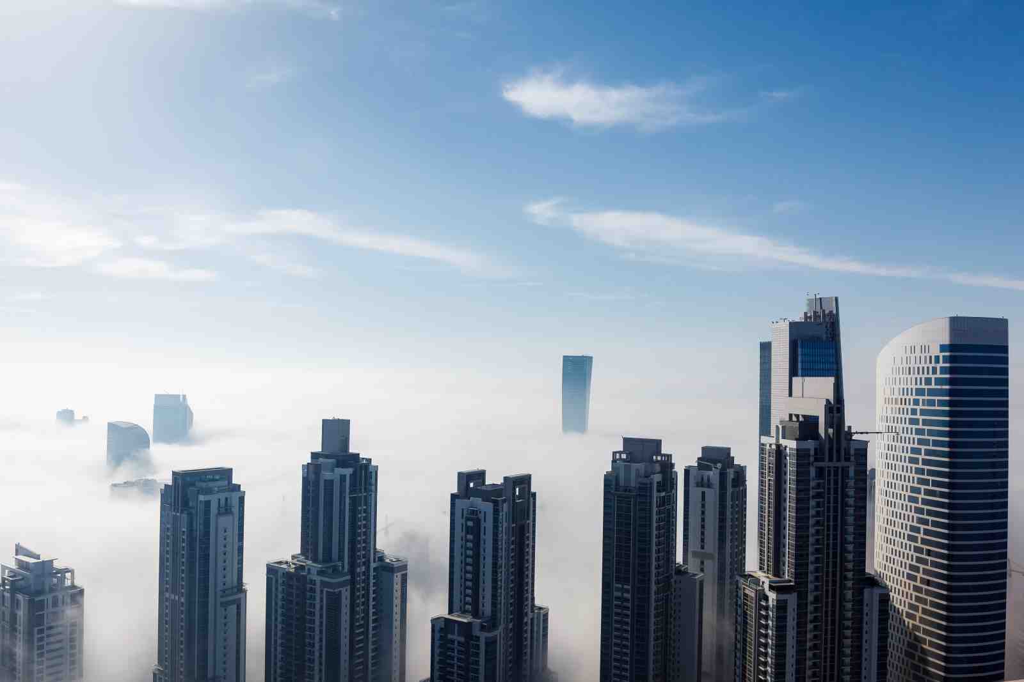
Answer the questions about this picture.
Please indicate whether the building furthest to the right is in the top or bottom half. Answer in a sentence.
The building furthest to the right is in the bottom half of the image.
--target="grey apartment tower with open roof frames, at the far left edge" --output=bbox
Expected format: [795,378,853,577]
[0,542,86,682]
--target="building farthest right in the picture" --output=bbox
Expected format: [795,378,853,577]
[872,312,1012,682]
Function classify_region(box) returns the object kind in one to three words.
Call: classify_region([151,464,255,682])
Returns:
building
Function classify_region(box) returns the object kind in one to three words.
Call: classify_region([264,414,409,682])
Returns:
building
